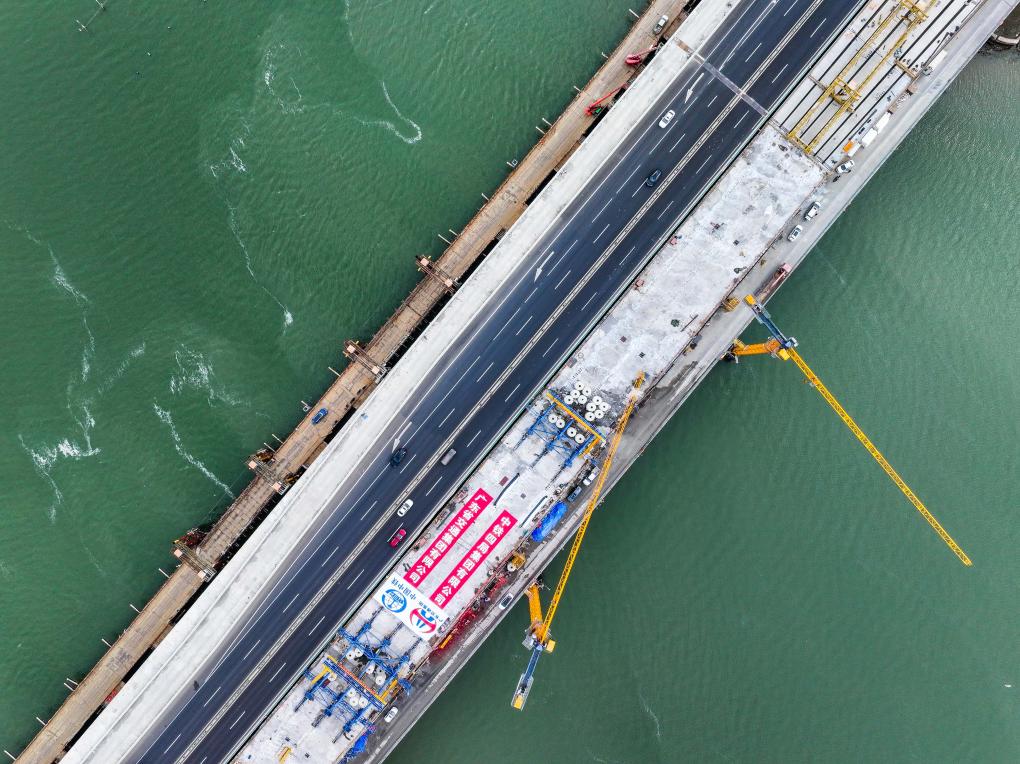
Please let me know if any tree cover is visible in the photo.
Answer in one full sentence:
No, there is no tree cover in the image.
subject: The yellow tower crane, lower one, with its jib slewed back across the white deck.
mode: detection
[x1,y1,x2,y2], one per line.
[512,377,642,707]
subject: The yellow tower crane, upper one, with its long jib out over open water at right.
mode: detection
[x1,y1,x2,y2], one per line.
[722,293,974,566]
